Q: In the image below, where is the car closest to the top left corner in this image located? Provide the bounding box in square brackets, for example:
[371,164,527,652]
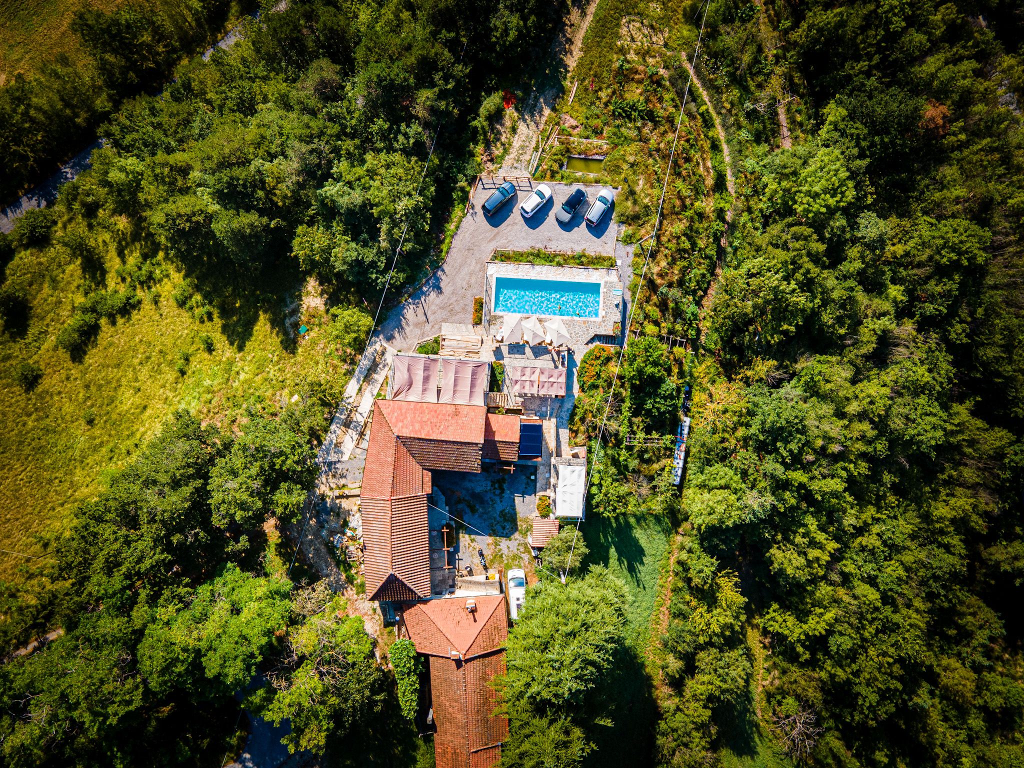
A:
[481,181,516,218]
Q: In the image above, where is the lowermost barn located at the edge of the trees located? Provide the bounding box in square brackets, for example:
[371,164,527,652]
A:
[428,650,507,768]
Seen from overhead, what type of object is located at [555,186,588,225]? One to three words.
car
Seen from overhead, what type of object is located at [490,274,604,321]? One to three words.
swimming pool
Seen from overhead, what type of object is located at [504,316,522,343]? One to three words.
umbrella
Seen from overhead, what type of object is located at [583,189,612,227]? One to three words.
car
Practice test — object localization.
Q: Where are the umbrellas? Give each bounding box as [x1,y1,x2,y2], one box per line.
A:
[521,315,546,346]
[504,316,522,343]
[544,317,571,346]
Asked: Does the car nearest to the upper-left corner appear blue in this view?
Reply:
Yes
